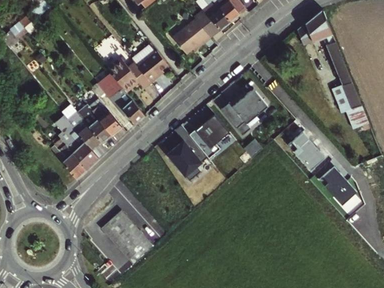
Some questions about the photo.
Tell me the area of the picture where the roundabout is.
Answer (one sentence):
The roundabout is located in the bottom left region of the scene.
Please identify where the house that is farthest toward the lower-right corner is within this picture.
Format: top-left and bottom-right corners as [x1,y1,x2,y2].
[319,168,356,208]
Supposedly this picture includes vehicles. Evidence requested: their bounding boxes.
[150,108,160,118]
[348,214,360,222]
[195,66,205,76]
[43,278,54,283]
[220,75,230,84]
[266,18,276,27]
[6,201,12,212]
[56,201,66,210]
[51,215,61,224]
[314,60,322,70]
[70,190,80,200]
[2,186,10,198]
[144,226,155,238]
[232,64,245,76]
[6,228,13,239]
[32,202,42,210]
[246,78,256,88]
[20,282,32,288]
[66,240,71,251]
[106,139,116,148]
[208,86,218,96]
